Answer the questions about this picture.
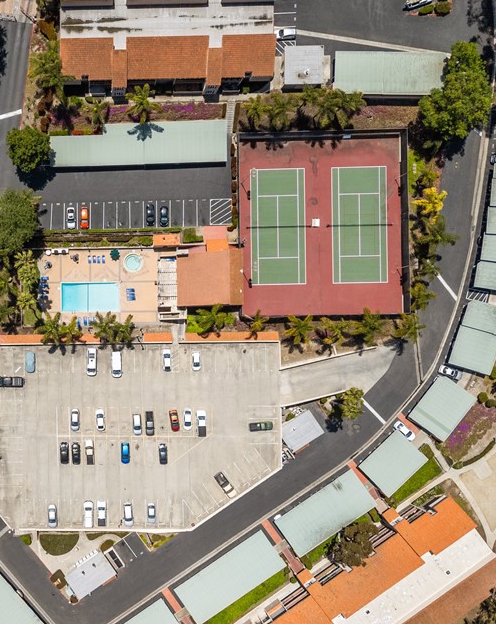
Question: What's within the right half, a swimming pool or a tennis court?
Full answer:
You can see a tennis court within the right half.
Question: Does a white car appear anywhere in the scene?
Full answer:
Yes, there's a white car here.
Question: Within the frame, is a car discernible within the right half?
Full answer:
Yes, a car is visible within the right half.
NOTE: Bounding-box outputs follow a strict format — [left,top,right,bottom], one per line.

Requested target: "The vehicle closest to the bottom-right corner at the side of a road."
[392,420,415,441]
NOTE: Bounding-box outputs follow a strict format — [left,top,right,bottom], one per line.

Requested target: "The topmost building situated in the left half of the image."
[60,0,276,100]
